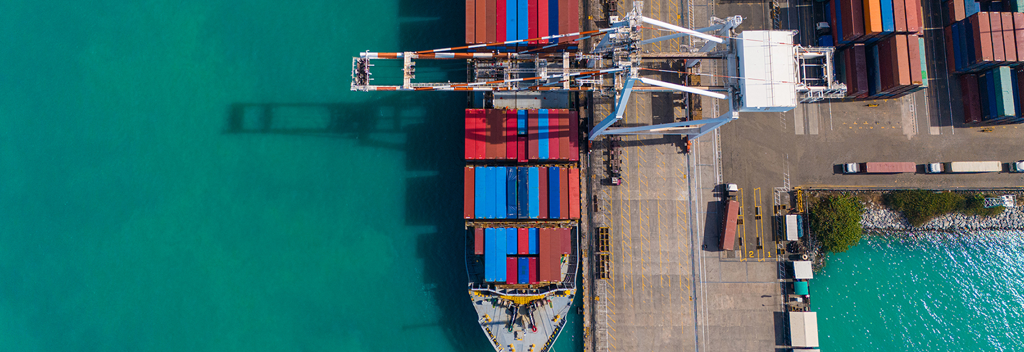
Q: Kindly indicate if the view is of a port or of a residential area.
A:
port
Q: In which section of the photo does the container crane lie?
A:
top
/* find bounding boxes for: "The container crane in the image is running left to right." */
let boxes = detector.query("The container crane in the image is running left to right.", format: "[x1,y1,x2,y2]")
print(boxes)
[349,0,858,164]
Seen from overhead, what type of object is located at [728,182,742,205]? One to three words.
vehicle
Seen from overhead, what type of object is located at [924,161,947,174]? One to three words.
vehicle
